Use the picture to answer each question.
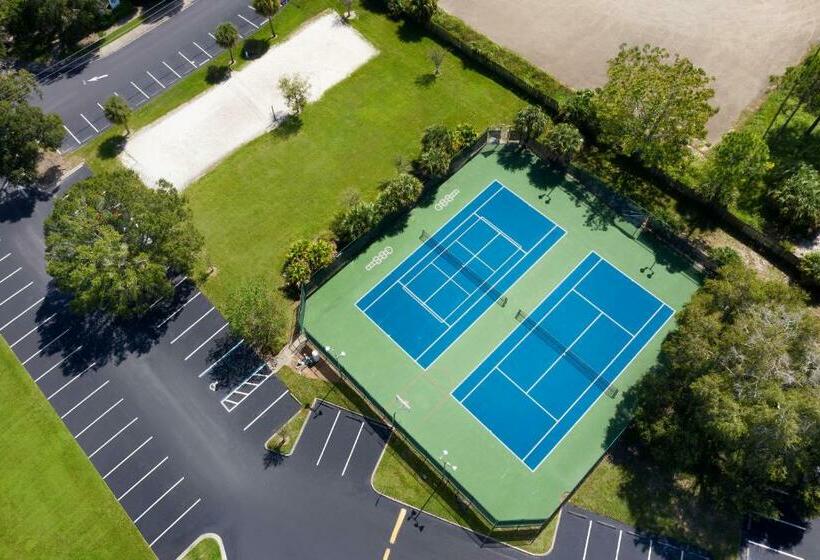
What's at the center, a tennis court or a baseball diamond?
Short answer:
tennis court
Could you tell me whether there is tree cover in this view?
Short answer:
Yes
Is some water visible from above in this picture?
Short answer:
No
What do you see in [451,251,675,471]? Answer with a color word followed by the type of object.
blue tennis court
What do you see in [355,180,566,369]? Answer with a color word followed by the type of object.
blue tennis court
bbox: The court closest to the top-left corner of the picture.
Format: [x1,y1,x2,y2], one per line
[113,6,380,192]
